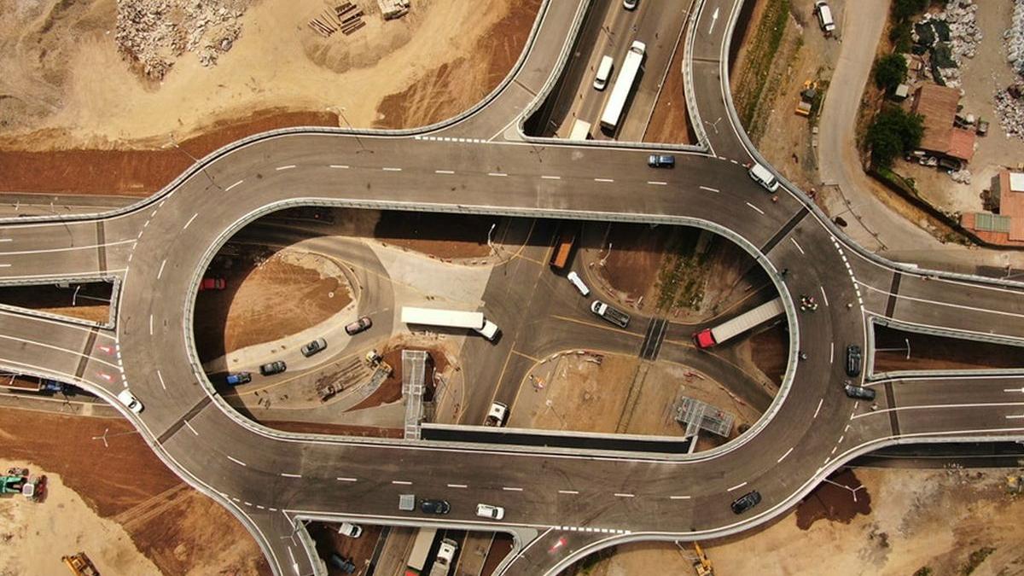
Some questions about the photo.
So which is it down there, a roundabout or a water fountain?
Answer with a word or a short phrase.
roundabout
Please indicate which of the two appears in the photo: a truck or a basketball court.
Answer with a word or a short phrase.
truck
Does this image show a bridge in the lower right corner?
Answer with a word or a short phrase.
Yes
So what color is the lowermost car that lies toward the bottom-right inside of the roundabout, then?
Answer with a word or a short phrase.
black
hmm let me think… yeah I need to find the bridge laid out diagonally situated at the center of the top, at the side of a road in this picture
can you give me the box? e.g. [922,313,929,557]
[414,0,593,143]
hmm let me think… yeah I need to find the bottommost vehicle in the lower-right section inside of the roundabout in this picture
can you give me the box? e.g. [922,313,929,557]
[729,490,761,515]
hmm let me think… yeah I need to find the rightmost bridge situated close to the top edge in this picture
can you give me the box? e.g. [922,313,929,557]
[681,0,767,165]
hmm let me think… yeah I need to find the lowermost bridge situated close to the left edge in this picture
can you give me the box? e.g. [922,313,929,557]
[0,301,130,416]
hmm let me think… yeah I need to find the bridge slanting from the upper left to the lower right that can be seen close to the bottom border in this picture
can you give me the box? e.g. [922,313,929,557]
[209,493,330,576]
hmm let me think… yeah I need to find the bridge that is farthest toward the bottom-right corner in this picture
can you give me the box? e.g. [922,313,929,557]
[817,368,1024,481]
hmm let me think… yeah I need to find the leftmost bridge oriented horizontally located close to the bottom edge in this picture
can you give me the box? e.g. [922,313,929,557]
[491,526,636,576]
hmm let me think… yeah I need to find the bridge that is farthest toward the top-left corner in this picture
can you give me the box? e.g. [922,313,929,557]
[0,186,165,289]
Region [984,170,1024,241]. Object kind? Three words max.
house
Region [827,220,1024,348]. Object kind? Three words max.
bridge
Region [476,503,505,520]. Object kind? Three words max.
car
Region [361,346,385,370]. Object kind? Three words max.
work vehicle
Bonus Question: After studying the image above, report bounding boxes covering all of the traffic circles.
[106,125,876,546]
